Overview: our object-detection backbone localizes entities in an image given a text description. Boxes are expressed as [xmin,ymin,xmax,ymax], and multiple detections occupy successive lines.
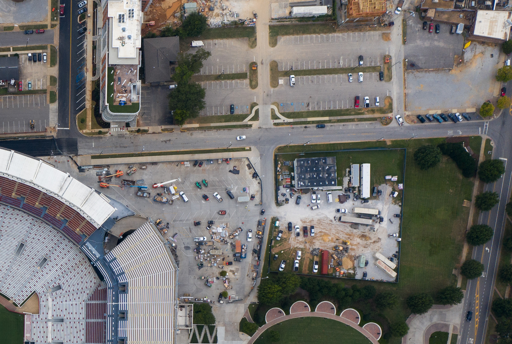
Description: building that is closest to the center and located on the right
[292,156,337,190]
